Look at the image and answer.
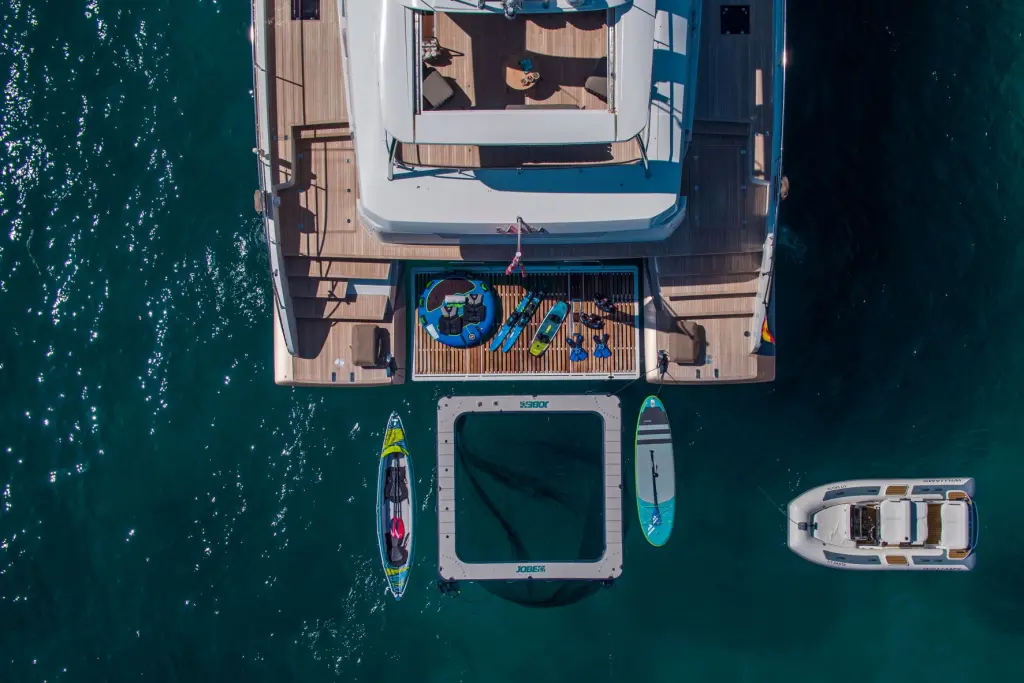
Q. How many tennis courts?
zero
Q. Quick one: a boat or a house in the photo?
boat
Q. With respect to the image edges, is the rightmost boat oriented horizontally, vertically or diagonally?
horizontally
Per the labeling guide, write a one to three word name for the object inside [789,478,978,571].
boat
